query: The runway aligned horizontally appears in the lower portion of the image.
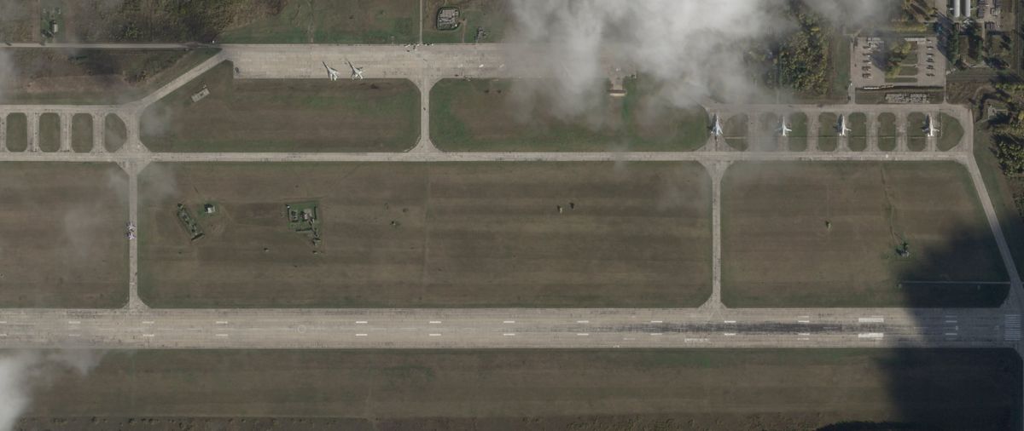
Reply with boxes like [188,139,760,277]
[0,297,1024,431]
